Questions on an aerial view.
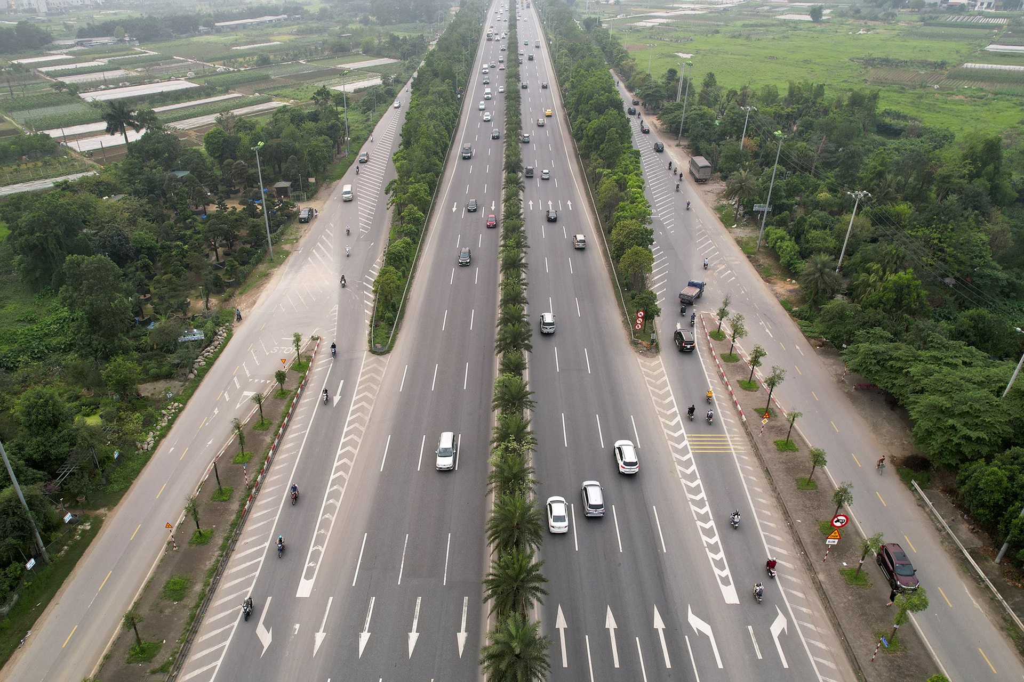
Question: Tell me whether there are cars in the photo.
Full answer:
Yes, the photo shows a car.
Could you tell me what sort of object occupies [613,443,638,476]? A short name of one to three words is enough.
car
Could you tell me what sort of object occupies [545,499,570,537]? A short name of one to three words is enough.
car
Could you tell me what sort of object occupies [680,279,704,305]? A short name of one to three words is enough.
truck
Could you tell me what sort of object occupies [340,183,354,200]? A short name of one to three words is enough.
vehicle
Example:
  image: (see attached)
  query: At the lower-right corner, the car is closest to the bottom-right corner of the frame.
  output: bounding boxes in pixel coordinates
[873,542,924,593]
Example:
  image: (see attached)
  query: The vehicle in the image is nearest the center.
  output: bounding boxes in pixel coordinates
[538,314,556,334]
